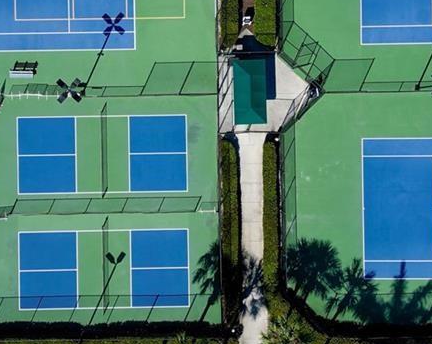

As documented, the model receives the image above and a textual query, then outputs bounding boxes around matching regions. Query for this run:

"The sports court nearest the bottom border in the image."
[19,229,190,310]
